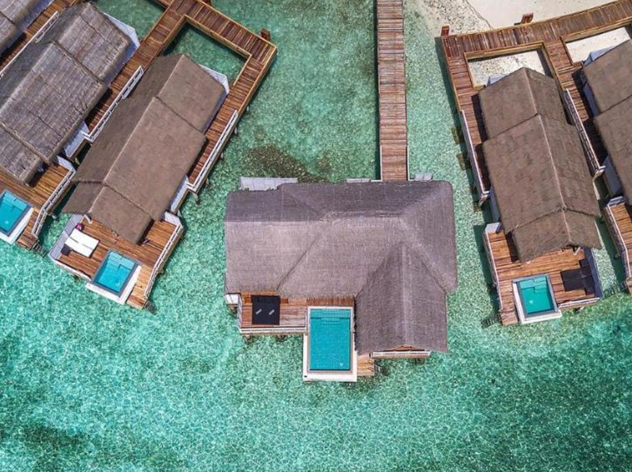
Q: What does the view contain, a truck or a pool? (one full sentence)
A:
Visible in the photo is a pool.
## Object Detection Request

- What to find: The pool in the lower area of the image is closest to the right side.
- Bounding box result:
[510,275,562,326]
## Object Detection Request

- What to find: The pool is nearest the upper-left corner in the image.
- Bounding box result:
[0,189,37,246]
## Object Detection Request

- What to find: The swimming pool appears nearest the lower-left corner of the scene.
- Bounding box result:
[86,249,145,307]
